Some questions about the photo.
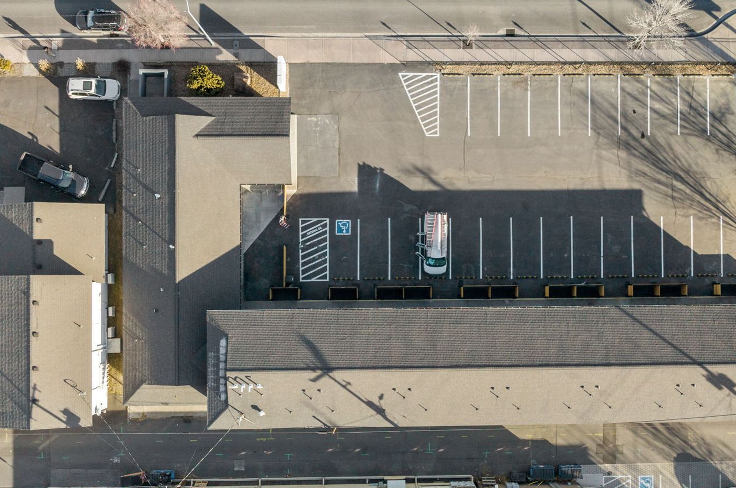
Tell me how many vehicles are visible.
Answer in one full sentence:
Looking from above, you can make out 4 vehicles.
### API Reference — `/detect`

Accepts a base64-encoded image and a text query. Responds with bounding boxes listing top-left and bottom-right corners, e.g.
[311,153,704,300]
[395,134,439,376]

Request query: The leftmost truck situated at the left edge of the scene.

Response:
[18,151,89,196]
